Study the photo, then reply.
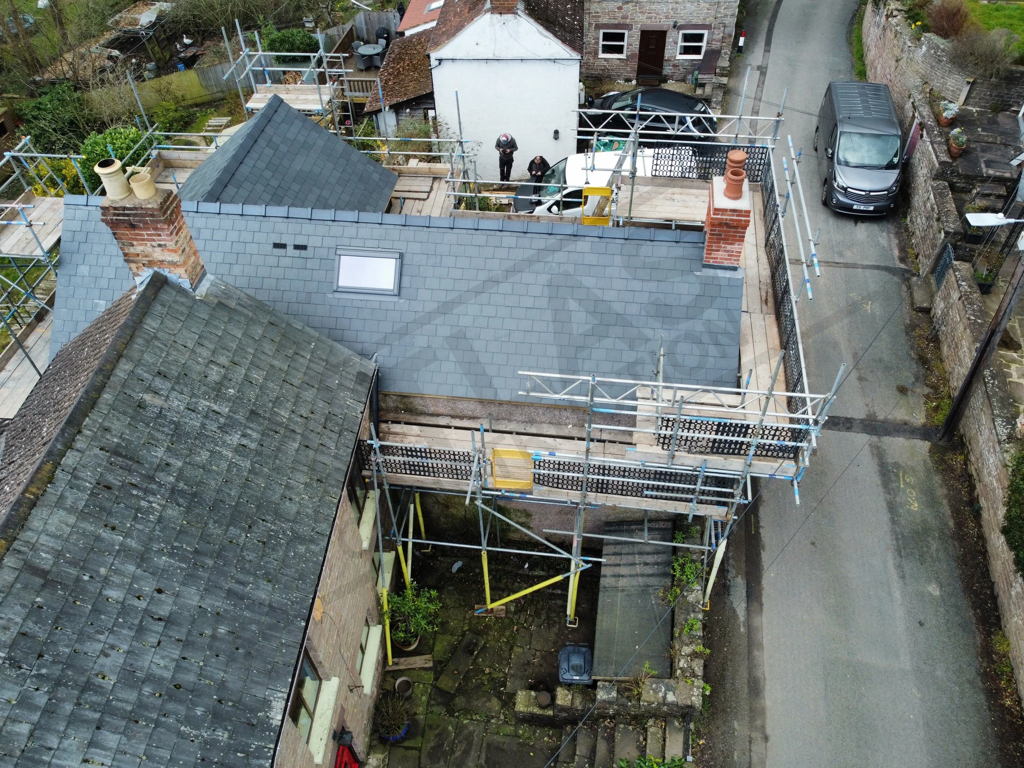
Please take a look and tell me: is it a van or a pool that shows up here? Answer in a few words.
van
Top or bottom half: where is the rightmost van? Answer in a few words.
top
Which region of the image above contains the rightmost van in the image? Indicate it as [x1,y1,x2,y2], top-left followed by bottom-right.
[809,82,912,222]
